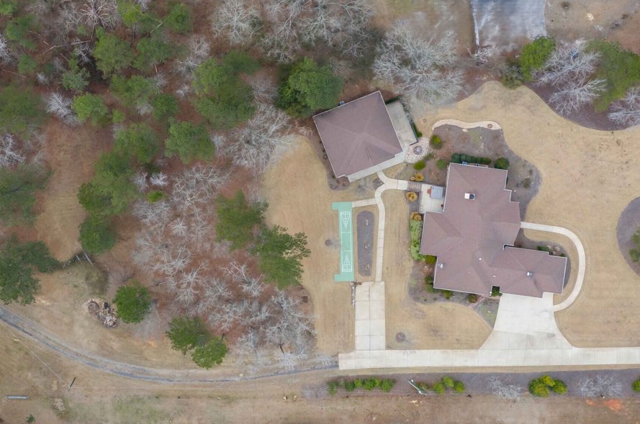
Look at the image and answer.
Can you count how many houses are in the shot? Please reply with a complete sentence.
In total, 2 houses can be seen.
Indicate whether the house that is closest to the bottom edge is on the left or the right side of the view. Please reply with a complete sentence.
It is on the right.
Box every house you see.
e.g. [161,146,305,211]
[313,91,403,177]
[418,163,568,298]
